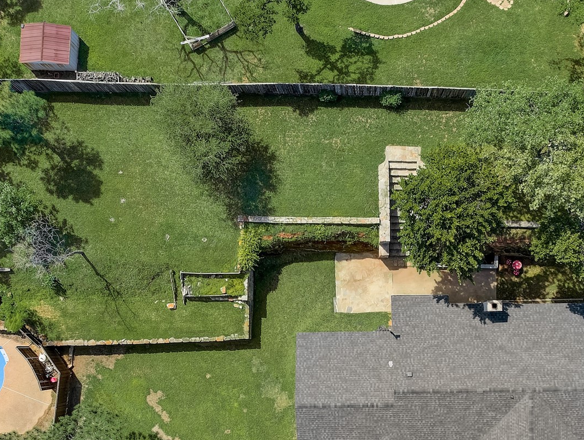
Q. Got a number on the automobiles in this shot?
0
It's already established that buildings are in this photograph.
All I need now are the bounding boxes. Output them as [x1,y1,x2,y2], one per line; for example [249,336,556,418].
[20,22,78,73]
[295,295,584,440]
